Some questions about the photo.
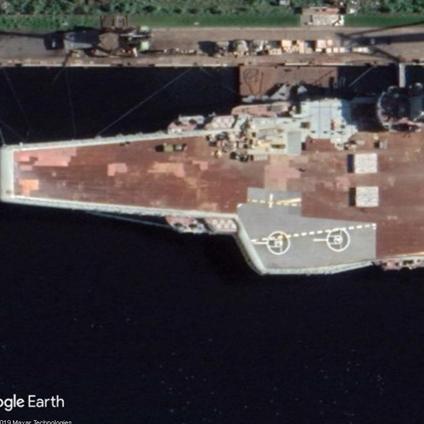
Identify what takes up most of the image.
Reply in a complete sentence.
For the most part, this view shows water.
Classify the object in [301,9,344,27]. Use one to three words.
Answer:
shed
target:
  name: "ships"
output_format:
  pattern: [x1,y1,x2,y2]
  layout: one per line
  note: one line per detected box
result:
[0,81,424,276]
[239,67,339,102]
